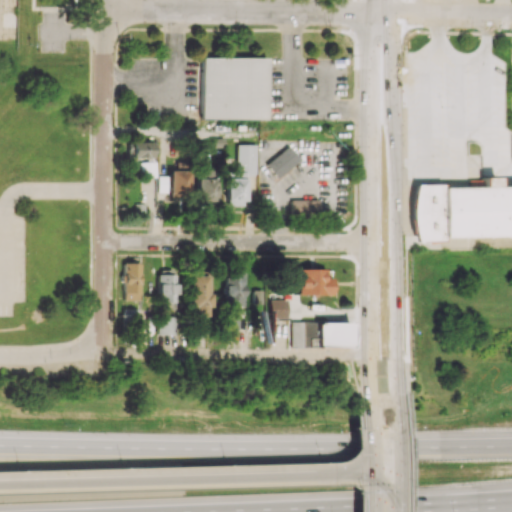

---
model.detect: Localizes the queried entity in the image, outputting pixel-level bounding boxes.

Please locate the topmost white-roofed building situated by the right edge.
[418,178,512,244]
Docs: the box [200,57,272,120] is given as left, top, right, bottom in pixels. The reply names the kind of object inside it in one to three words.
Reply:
building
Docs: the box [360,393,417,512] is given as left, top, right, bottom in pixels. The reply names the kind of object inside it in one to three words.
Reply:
bridge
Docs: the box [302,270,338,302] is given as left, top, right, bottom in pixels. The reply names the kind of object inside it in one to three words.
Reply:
house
